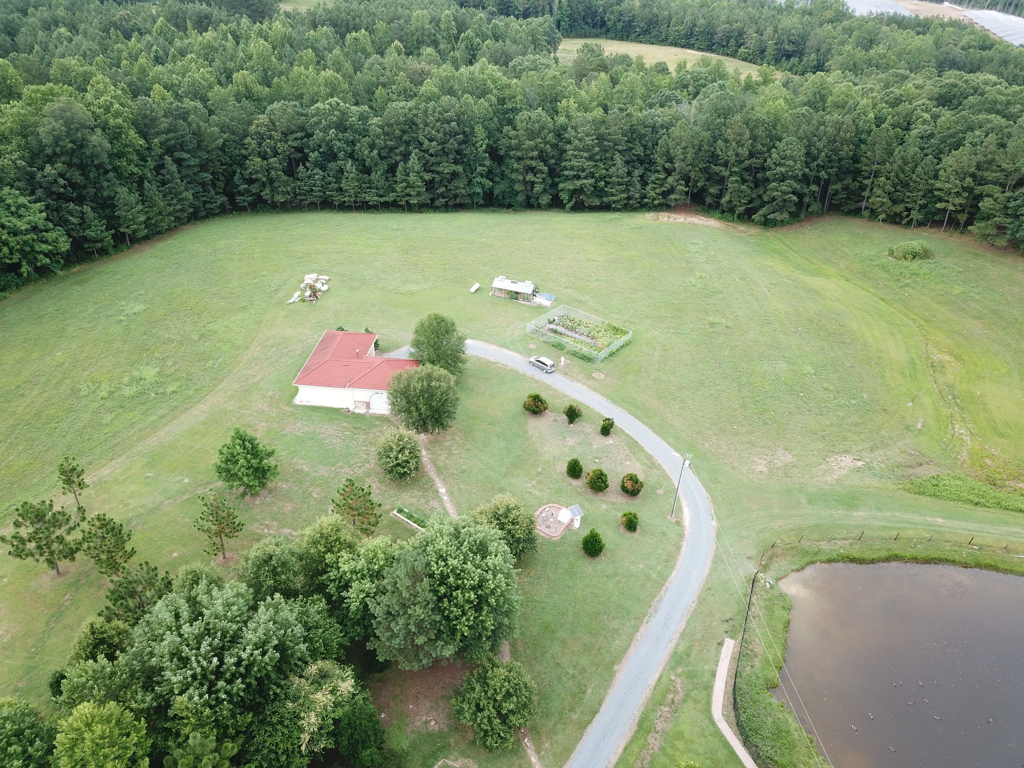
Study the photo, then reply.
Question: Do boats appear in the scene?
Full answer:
No, no boat is visible in the scene.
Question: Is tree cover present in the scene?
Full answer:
Yes, the picture does contain tree cover.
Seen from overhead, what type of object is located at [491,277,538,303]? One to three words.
greenhouse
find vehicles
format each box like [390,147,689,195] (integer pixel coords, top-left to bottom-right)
[528,353,557,371]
